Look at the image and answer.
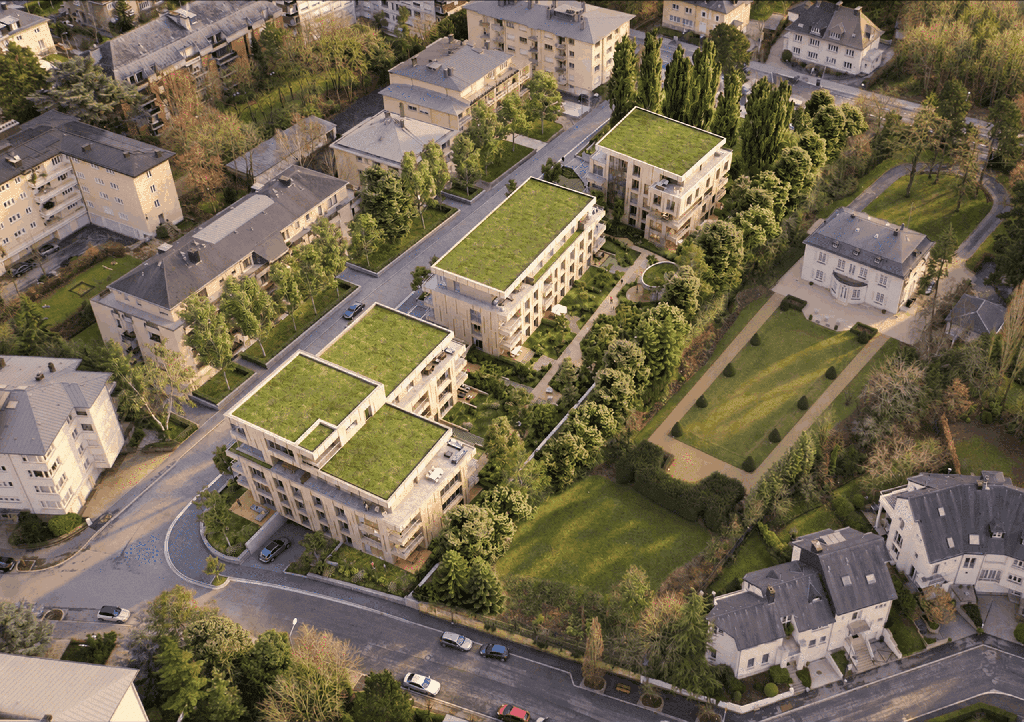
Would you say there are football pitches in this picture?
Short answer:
No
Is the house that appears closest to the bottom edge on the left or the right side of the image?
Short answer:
left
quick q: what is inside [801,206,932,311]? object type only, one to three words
house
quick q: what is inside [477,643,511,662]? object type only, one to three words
car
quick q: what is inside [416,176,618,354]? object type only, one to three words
building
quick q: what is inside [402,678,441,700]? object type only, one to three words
car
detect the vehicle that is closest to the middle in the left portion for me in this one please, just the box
[341,301,368,320]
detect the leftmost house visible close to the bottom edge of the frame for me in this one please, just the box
[0,653,146,722]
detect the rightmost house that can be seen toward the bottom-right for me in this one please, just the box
[870,462,1024,607]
